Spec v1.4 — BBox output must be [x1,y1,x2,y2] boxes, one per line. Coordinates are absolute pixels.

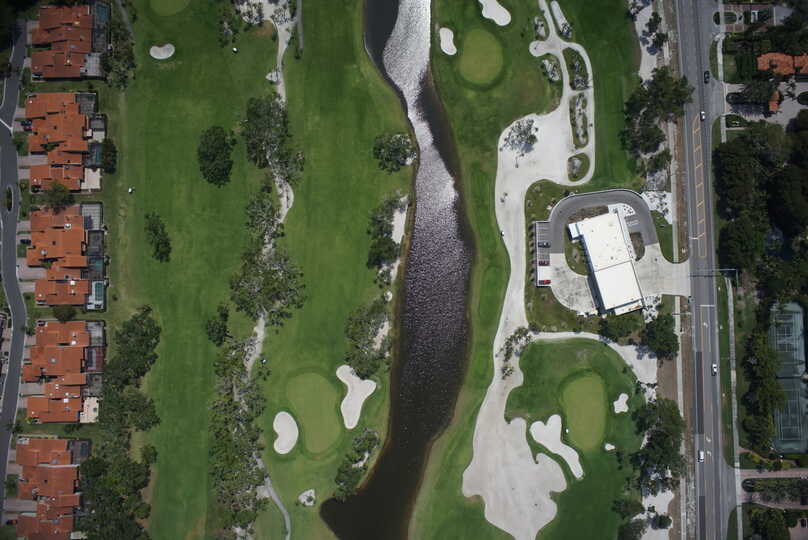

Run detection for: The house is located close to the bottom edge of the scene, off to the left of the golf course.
[17,437,95,540]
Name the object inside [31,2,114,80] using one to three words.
house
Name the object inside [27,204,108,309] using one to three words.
house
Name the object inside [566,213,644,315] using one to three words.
building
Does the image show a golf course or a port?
golf course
